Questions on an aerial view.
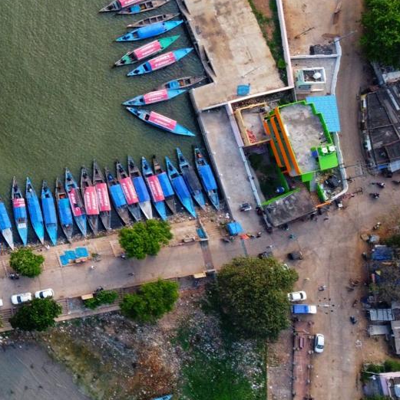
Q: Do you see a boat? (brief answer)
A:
Yes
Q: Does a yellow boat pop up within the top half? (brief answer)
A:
No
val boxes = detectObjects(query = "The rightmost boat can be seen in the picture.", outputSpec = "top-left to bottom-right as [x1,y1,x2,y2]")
[194,148,220,211]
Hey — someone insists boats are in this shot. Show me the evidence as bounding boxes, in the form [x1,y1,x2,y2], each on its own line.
[113,36,180,66]
[194,148,220,211]
[25,178,45,245]
[115,19,185,41]
[127,48,194,76]
[65,167,87,238]
[0,198,14,250]
[121,88,189,105]
[162,77,207,91]
[128,156,152,220]
[116,0,170,15]
[80,166,99,237]
[165,156,196,217]
[99,0,144,13]
[175,148,206,211]
[126,107,197,136]
[56,178,73,242]
[105,167,128,225]
[116,160,140,220]
[93,159,111,232]
[126,14,180,28]
[154,156,177,214]
[40,181,57,245]
[142,157,166,221]
[11,178,26,248]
